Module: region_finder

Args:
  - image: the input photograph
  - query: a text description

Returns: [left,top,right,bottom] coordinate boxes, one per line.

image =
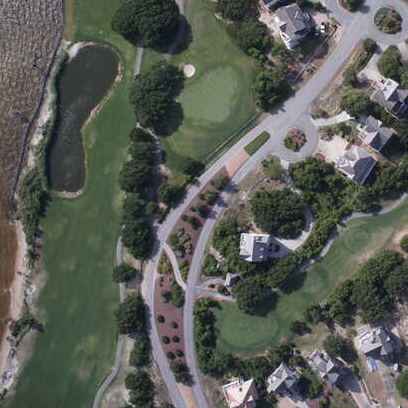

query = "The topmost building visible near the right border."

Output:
[369,74,408,122]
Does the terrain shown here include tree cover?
Yes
